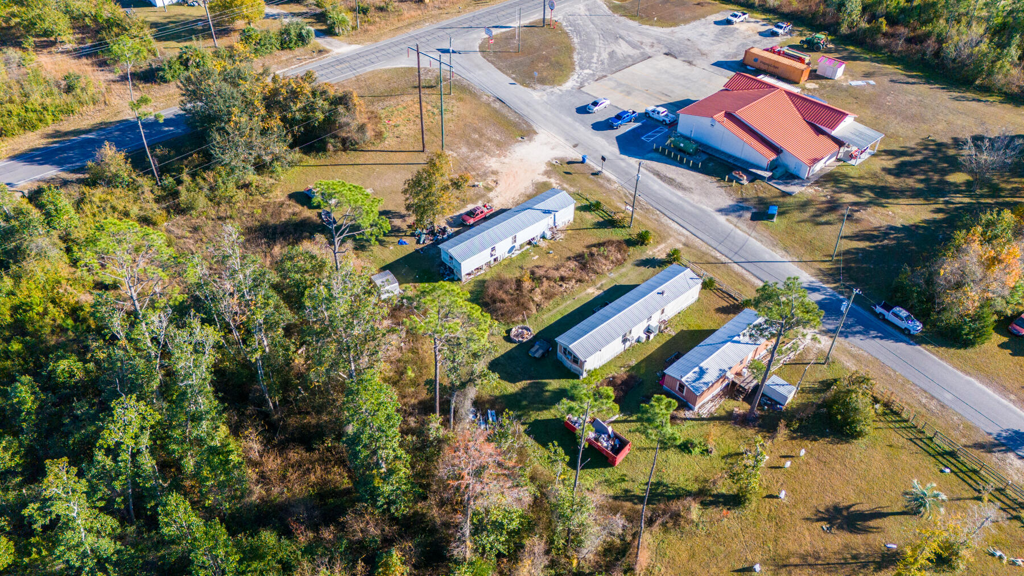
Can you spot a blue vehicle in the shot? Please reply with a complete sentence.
Yes, the photo shows a blue vehicle.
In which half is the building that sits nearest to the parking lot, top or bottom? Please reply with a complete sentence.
The building that sits nearest to the parking lot is in the top half of the image.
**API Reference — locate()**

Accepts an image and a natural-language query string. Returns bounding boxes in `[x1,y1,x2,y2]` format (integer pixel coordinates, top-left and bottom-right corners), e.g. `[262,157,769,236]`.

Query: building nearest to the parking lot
[675,71,868,179]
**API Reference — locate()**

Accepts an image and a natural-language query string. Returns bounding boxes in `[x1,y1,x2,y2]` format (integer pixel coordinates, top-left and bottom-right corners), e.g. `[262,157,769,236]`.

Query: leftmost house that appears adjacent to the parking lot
[436,190,578,280]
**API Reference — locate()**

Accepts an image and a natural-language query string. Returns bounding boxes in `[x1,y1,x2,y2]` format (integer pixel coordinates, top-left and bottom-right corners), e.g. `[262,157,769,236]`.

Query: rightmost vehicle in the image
[1002,311,1024,335]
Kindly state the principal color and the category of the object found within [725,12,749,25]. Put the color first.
white vehicle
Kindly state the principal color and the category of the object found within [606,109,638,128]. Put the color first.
blue vehicle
